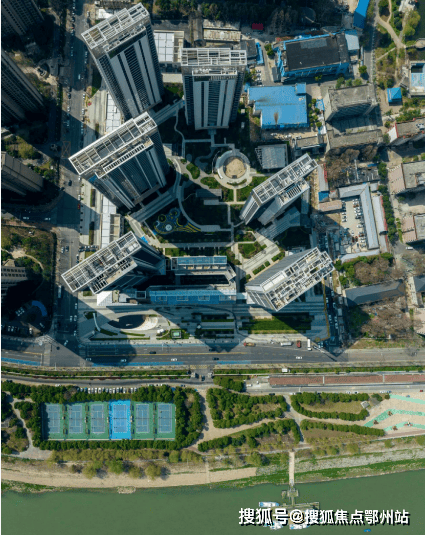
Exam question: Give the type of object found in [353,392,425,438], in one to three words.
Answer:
playground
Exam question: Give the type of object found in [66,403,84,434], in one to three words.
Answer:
tennis court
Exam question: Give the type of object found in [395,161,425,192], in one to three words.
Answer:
house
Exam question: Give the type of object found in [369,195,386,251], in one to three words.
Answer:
building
